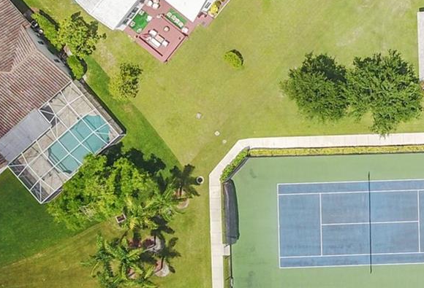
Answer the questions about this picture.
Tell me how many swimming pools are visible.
1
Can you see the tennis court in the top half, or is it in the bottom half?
bottom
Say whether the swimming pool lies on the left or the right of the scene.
left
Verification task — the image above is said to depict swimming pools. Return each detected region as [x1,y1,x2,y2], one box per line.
[47,113,109,171]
